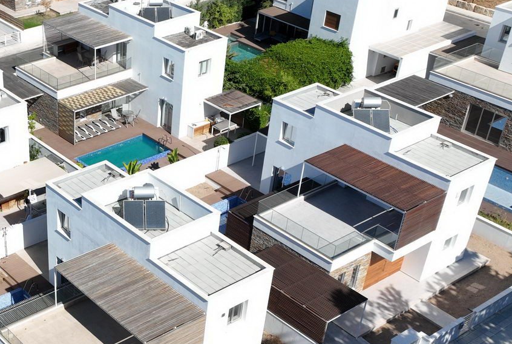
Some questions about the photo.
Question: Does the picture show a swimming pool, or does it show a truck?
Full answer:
The one in the frame is a swimming pool.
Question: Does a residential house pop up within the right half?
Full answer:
Yes, a residential house shows up within the right half.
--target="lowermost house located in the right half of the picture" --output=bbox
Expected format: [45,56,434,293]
[224,84,497,292]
